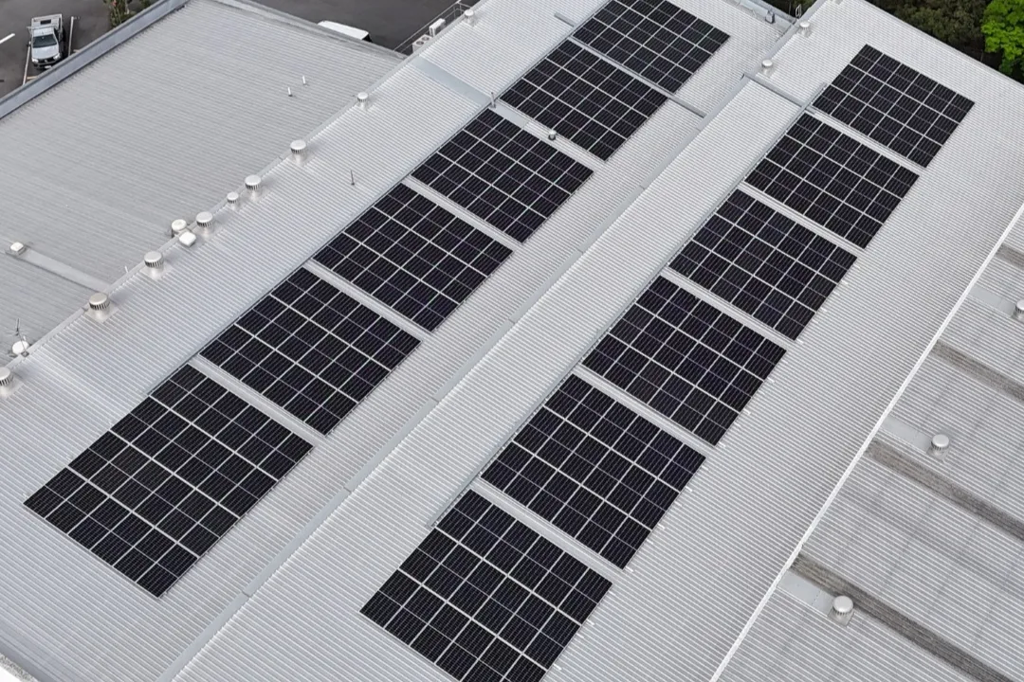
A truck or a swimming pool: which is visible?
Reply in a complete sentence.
I can see a truck in this picture.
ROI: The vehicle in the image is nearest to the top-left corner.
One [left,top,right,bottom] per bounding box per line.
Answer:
[27,11,66,68]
